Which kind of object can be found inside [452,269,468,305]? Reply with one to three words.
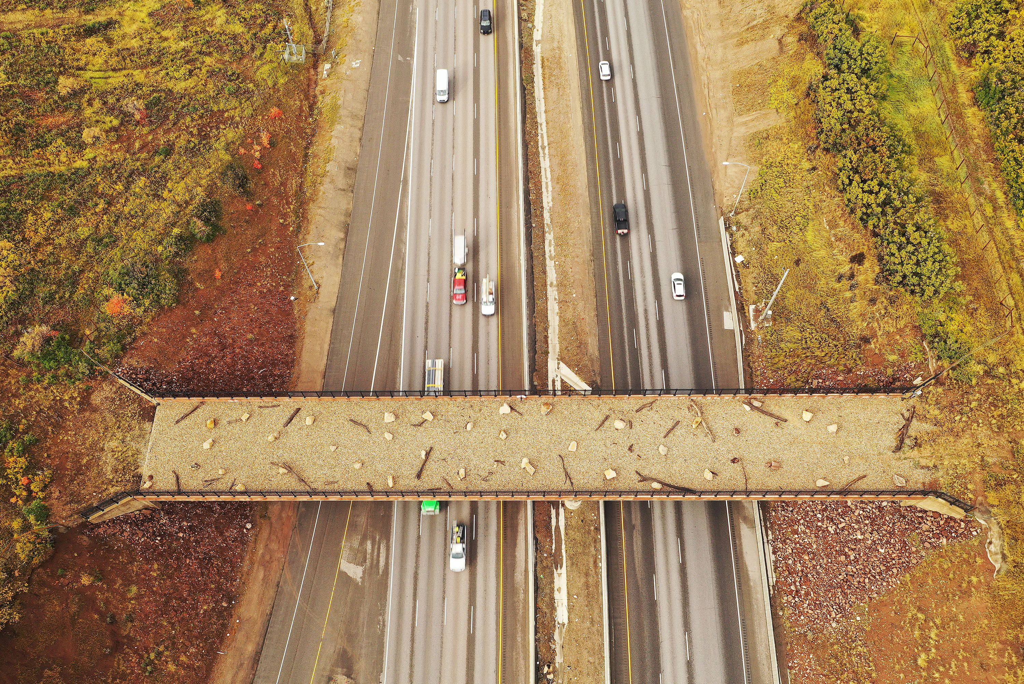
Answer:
vehicle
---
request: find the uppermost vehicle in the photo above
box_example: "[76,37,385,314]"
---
[480,12,492,35]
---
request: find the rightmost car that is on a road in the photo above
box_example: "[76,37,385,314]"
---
[670,274,684,300]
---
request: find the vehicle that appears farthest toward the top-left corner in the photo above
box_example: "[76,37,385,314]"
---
[436,70,450,103]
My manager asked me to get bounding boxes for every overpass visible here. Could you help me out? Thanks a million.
[84,369,973,523]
